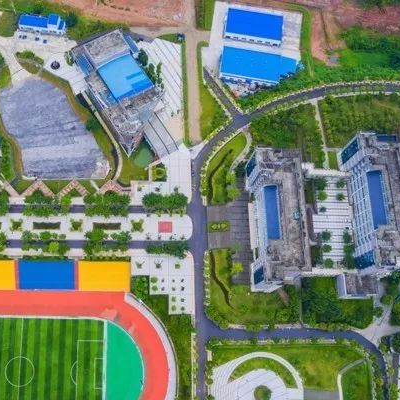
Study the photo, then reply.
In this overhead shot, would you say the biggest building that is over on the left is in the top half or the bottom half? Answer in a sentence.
Seen from above, the biggest building that is over on the left lies in the top half of the view.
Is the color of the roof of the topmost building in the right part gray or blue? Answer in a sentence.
The roof of the topmost building in the right part looks blue in the image.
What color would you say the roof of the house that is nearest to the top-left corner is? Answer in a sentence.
The color of the roof on the house that is nearest to the top-left corner is blue.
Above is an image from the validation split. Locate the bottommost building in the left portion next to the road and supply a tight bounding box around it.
[72,28,167,160]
